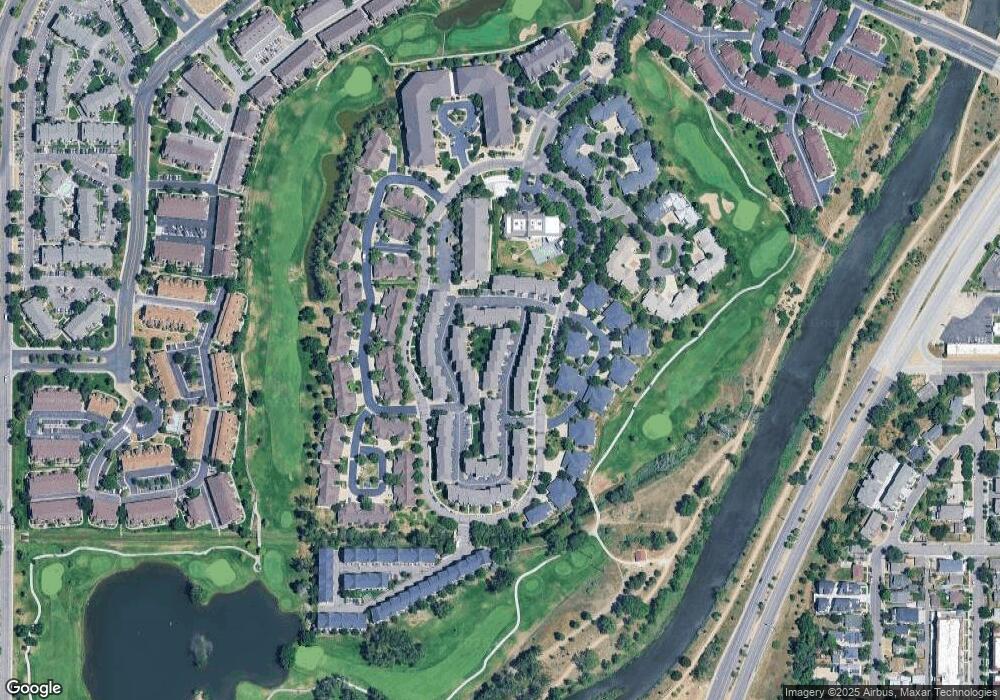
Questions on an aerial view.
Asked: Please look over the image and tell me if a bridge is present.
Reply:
Yes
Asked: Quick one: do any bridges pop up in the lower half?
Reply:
No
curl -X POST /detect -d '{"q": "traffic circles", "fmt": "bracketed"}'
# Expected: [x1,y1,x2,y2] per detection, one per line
[647,235,684,272]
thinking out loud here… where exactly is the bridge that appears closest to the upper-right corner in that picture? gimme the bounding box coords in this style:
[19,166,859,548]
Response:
[921,13,992,69]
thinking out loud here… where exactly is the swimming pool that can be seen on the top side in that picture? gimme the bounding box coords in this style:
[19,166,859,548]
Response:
[59,178,75,197]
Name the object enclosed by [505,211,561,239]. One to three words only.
building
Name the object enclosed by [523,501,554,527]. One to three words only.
house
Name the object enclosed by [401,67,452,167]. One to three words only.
building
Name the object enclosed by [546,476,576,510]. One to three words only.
house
